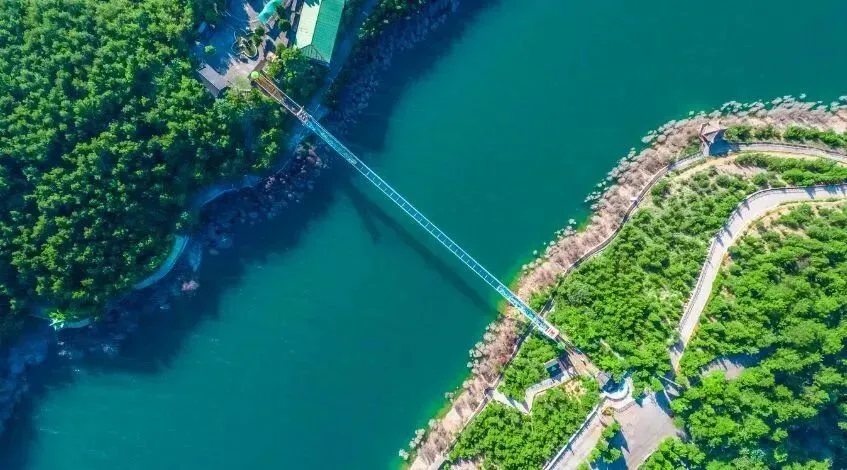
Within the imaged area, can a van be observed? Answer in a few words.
No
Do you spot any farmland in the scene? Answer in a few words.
No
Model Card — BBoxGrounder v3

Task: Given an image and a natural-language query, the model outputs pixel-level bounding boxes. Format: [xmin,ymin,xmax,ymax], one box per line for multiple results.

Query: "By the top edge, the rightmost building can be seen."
[297,0,347,62]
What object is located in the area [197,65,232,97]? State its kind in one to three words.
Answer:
building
